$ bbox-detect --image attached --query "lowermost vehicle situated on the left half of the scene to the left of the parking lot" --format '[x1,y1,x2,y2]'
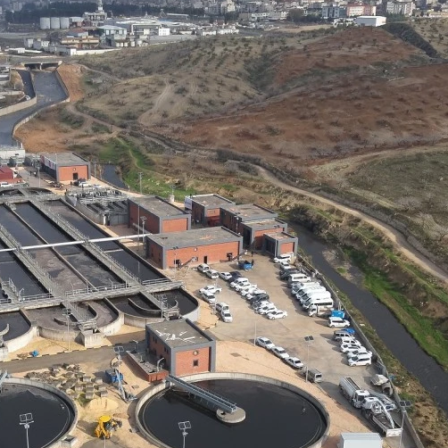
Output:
[94,415,127,441]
